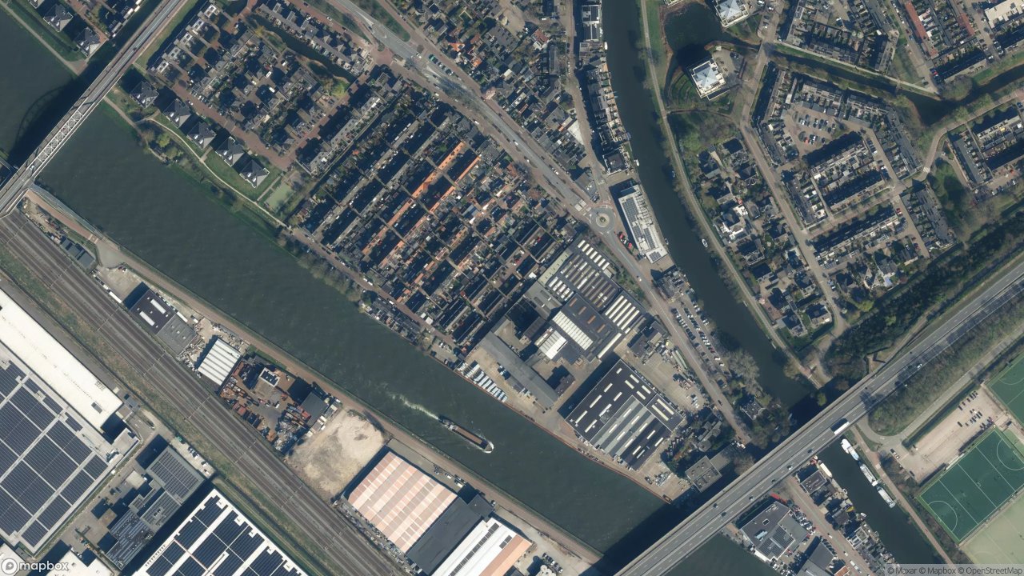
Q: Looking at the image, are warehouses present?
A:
Yes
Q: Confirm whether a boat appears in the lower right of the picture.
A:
Yes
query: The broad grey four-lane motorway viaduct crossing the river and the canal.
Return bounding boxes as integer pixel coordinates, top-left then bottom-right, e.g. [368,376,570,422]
[612,250,1024,576]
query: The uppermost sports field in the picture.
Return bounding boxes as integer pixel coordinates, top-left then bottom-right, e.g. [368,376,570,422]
[984,352,1024,423]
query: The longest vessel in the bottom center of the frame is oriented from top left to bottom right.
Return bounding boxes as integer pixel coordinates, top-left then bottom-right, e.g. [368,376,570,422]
[437,415,492,452]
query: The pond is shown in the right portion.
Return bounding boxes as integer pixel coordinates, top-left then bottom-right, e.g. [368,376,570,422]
[664,4,758,100]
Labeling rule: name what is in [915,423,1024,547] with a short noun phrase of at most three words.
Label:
sports field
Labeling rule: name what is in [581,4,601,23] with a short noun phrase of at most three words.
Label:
house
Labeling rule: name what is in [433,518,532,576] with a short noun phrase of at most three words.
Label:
building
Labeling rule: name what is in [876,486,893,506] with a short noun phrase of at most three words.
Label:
boat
